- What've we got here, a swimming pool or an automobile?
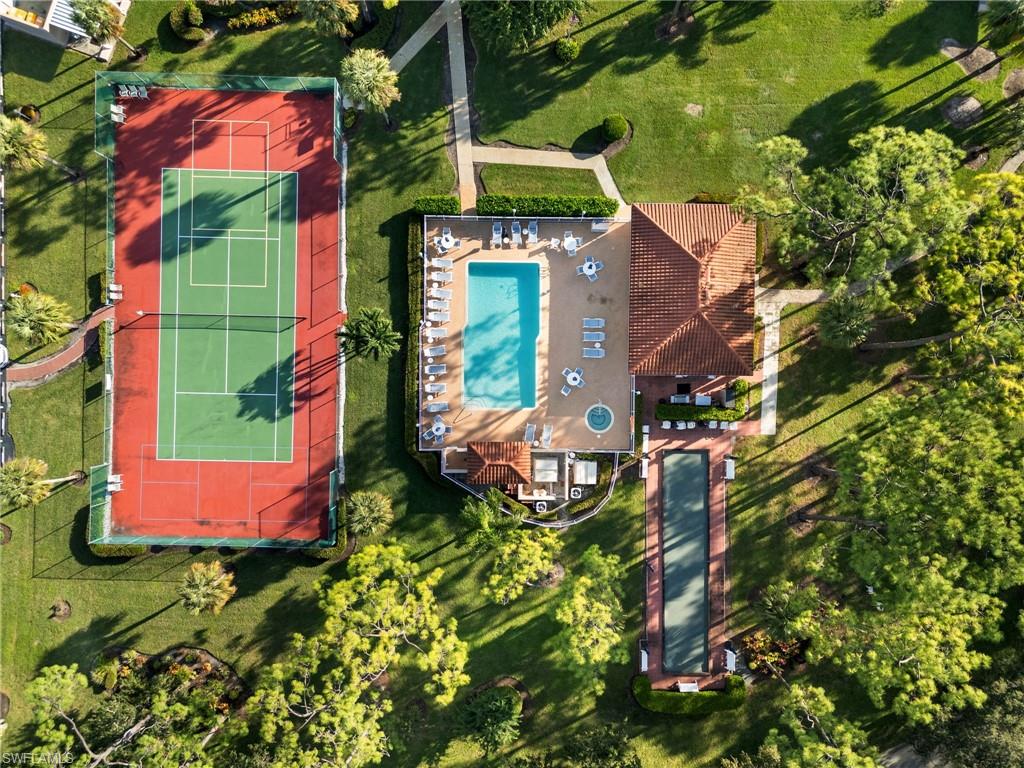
swimming pool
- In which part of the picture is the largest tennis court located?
left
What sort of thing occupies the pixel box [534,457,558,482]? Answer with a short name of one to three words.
shed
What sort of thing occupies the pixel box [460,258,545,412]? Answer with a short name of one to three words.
swimming pool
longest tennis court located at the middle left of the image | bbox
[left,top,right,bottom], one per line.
[107,87,347,541]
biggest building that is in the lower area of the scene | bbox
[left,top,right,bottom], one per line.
[465,441,533,486]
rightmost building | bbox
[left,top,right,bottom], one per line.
[628,202,756,377]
